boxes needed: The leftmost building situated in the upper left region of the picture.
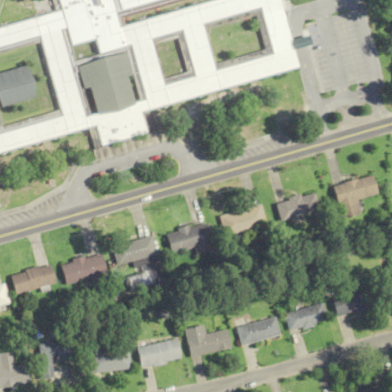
[0,66,36,108]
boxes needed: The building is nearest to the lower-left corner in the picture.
[0,353,30,388]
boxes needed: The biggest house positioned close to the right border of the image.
[334,176,380,218]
